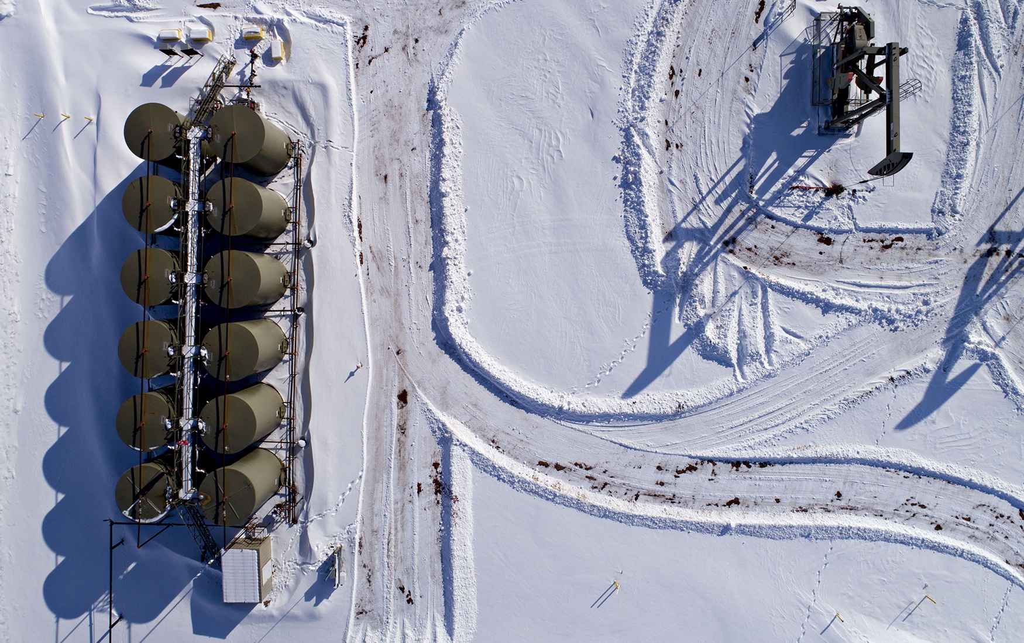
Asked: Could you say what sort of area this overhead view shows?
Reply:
industrial area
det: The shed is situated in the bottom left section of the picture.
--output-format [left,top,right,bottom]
[222,538,272,604]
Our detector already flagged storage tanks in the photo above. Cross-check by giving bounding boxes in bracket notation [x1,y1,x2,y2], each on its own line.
[205,178,296,243]
[120,249,185,308]
[121,175,187,240]
[200,384,291,455]
[198,448,292,526]
[118,318,183,380]
[202,320,293,383]
[203,251,295,310]
[117,382,181,452]
[207,104,300,177]
[123,101,217,175]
